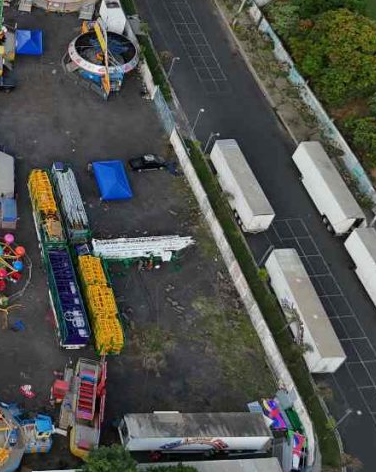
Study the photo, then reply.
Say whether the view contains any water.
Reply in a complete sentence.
No, no water is visible.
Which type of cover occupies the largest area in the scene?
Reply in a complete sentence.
The bulk of the photo consists of paved ground.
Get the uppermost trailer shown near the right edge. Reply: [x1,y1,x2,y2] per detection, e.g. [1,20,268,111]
[292,143,367,242]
